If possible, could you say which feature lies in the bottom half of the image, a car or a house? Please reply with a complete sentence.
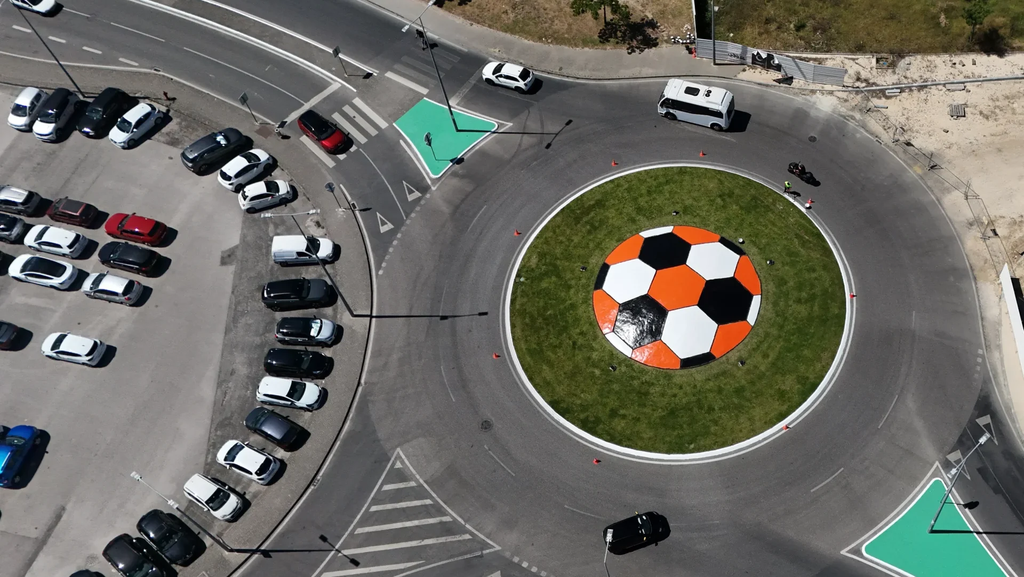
Visible in the bottom half of the image is a car.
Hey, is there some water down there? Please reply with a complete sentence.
No, no water is visible.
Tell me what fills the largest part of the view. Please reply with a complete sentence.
For the most part, this view shows paved ground.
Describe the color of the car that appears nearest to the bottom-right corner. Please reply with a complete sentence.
In this view, the car that appears nearest to the bottom-right corner is black.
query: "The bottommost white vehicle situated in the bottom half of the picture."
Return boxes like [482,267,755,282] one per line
[176,467,242,523]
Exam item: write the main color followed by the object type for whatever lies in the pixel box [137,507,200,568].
black car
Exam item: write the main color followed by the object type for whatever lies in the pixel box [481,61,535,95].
white car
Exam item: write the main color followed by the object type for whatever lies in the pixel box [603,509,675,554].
black car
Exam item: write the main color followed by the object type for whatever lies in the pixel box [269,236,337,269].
white vehicle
